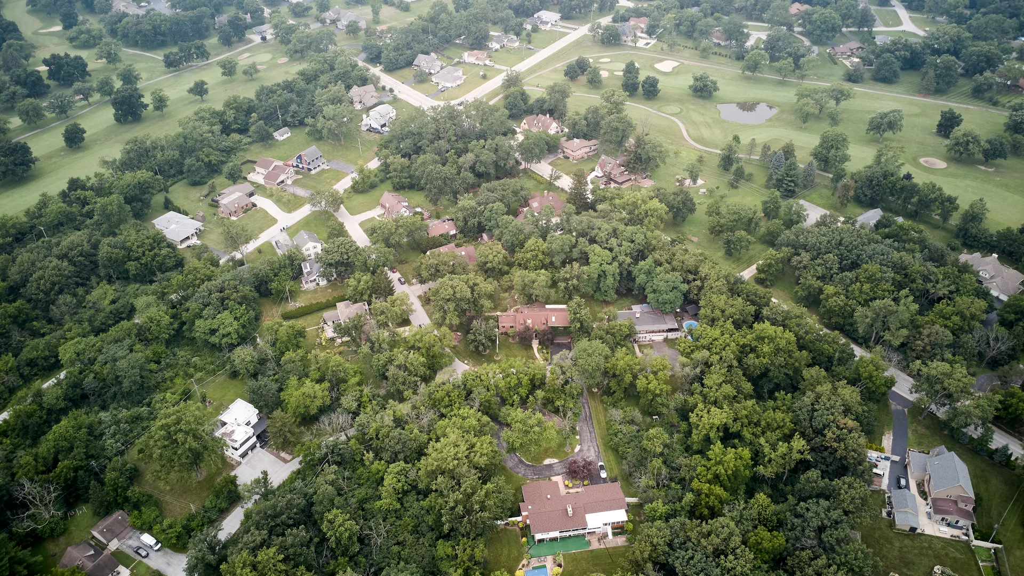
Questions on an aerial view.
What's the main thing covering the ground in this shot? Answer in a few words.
trees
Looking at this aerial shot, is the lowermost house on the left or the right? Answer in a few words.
left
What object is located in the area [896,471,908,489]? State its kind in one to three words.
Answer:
vehicle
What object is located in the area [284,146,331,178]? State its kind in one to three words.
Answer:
house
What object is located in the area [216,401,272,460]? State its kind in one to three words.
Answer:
house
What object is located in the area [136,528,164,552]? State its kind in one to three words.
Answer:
vehicle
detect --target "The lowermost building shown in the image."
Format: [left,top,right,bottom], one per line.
[63,536,132,576]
